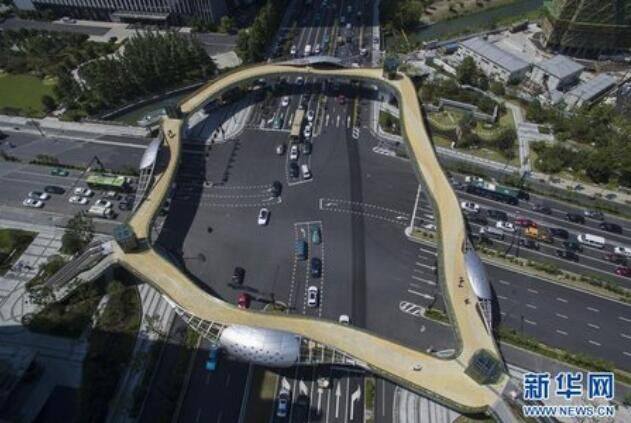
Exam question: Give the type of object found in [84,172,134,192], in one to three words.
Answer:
vehicle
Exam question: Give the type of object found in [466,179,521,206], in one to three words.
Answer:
bus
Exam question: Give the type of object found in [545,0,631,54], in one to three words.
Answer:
building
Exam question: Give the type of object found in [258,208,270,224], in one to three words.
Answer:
vehicle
